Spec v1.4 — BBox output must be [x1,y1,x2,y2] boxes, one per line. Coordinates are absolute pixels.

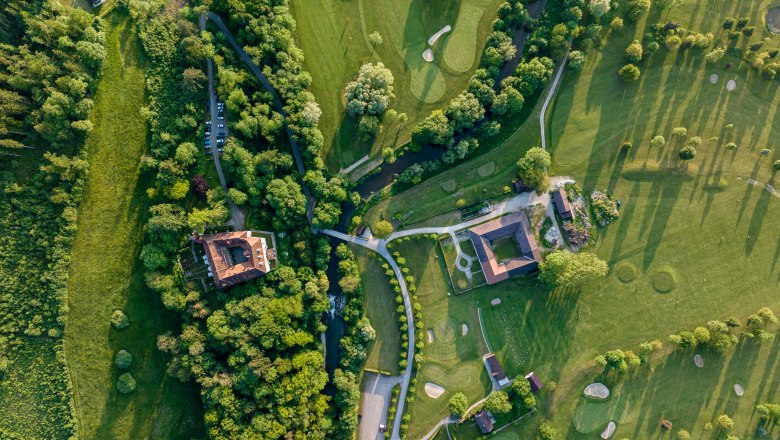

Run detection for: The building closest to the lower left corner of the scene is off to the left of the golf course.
[190,231,277,288]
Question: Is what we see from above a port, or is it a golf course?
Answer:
golf course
